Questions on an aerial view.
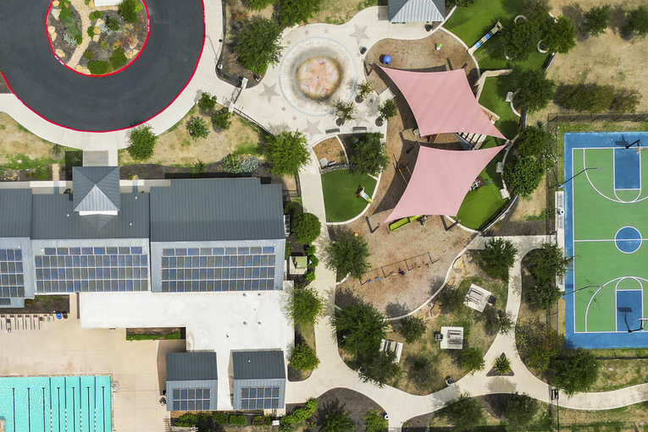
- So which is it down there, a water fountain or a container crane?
water fountain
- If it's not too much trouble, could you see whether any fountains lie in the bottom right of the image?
No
